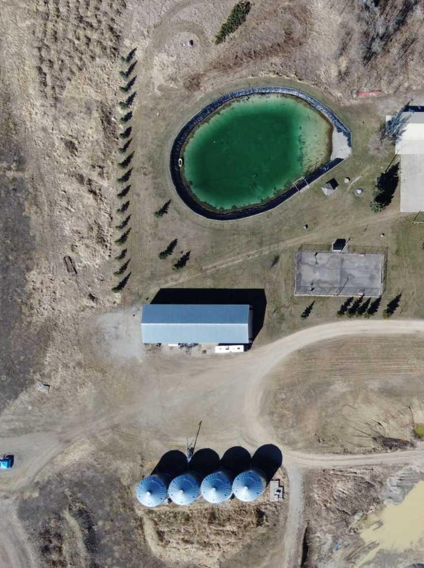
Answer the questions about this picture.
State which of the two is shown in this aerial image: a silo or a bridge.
silo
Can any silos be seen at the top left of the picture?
No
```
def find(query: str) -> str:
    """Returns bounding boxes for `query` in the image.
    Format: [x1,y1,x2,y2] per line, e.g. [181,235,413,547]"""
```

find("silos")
[233,464,270,501]
[136,470,173,507]
[168,468,205,505]
[201,465,237,502]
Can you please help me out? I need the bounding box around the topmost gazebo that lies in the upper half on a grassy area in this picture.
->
[322,179,338,196]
